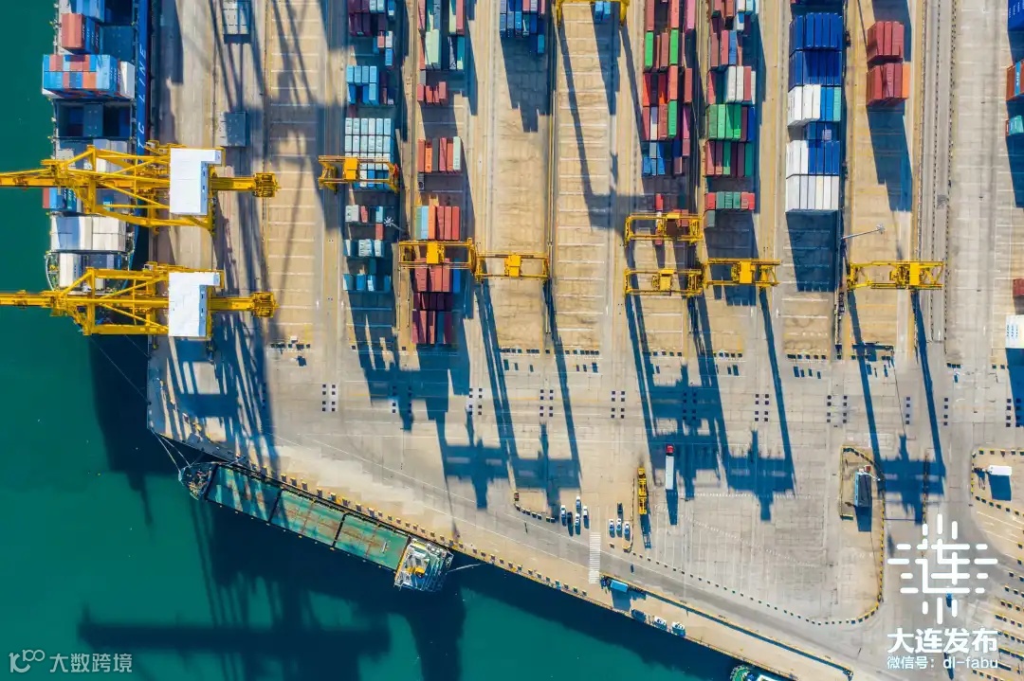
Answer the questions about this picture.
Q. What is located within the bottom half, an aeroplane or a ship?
ship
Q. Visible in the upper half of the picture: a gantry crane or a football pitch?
gantry crane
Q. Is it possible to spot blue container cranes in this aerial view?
No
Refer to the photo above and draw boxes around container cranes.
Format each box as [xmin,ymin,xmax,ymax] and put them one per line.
[552,0,629,27]
[693,256,785,290]
[848,258,947,293]
[319,153,407,194]
[0,264,284,342]
[474,252,552,283]
[0,141,284,236]
[398,238,479,272]
[621,212,707,248]
[621,266,707,298]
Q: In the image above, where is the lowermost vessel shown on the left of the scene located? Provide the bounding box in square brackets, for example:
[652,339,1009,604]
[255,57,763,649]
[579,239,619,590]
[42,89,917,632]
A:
[179,460,452,590]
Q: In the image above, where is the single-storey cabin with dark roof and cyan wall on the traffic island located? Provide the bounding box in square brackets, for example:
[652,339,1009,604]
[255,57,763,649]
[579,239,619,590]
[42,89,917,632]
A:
[857,471,876,507]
